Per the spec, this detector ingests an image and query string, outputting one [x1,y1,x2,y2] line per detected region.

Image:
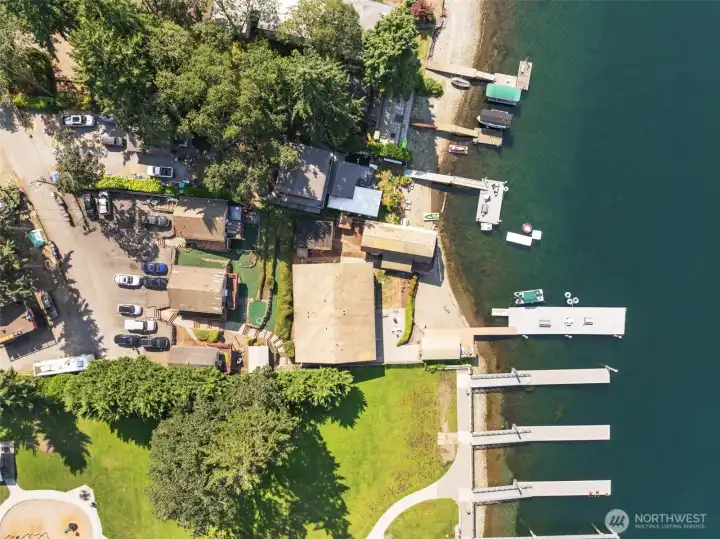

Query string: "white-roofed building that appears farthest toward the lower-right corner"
[420,335,461,361]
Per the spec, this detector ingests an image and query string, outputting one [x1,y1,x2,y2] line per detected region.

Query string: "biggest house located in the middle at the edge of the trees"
[291,261,378,365]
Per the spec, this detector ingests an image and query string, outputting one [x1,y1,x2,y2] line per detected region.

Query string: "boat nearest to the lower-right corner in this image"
[510,289,546,307]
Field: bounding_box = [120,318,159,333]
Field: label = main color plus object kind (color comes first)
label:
white vehicle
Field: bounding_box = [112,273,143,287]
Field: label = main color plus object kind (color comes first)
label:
white car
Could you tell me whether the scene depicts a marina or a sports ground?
marina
